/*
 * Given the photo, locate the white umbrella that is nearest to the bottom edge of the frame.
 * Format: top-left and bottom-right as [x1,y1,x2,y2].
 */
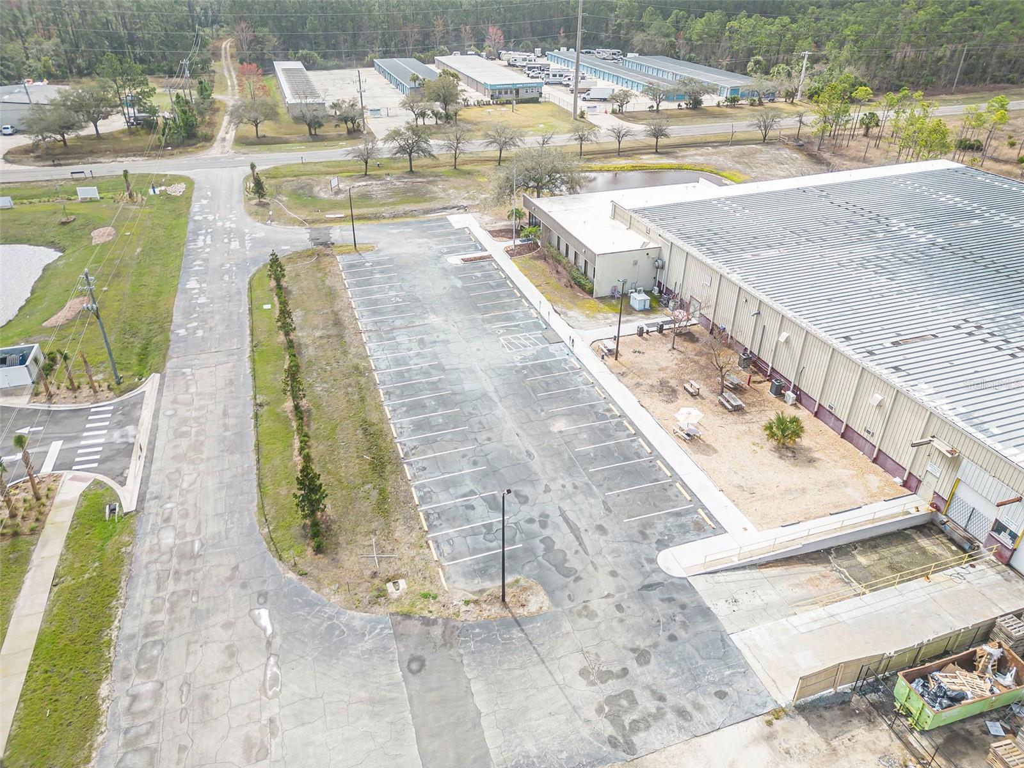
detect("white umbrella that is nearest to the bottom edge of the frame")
[675,409,707,428]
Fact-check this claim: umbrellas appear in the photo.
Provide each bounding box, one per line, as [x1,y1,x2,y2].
[667,310,694,320]
[675,409,707,428]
